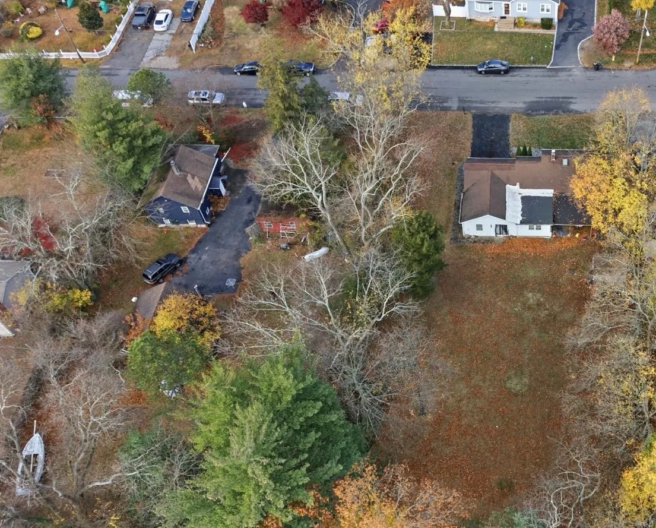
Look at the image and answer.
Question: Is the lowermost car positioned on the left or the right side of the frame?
left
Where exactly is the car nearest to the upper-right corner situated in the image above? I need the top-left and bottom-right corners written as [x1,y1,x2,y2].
[476,59,510,75]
